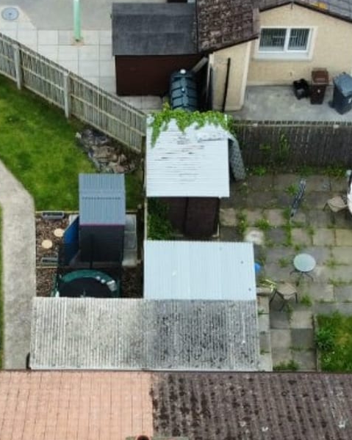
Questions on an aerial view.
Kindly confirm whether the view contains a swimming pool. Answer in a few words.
No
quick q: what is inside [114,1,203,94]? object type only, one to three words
shed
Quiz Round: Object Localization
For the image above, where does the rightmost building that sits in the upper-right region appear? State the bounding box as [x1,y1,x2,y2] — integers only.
[200,0,352,109]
